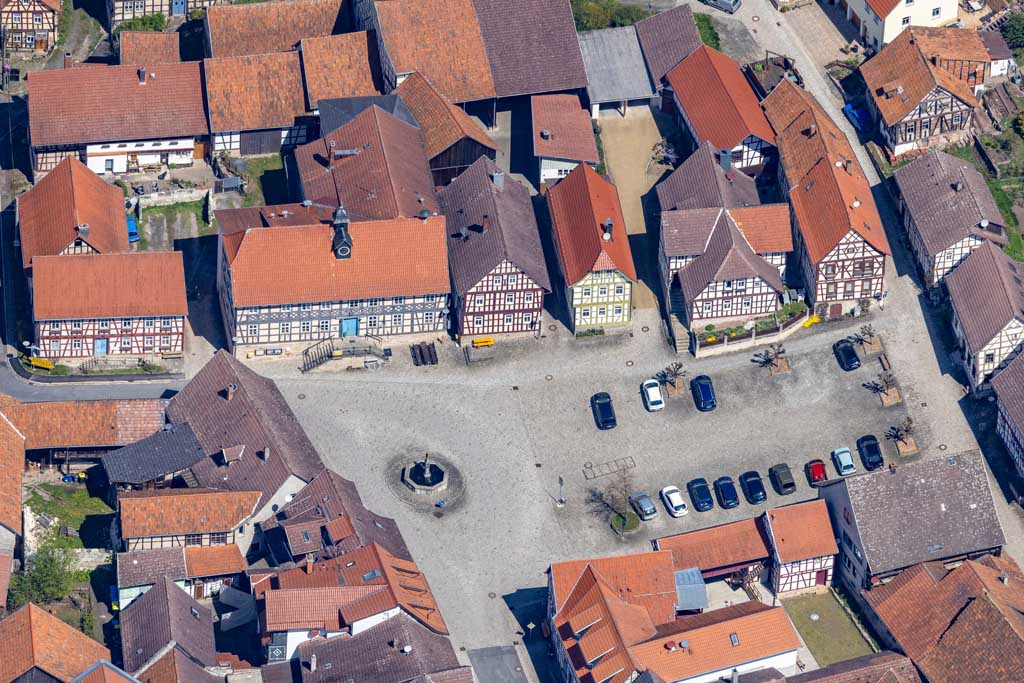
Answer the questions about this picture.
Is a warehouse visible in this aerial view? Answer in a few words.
Yes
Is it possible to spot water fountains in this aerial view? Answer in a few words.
Yes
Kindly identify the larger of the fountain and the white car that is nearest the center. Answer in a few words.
the fountain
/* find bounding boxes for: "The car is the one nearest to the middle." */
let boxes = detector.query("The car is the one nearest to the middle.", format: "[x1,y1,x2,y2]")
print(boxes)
[592,390,615,426]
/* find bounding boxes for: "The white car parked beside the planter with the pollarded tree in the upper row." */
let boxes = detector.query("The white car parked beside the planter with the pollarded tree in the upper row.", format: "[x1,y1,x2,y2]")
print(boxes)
[642,374,666,411]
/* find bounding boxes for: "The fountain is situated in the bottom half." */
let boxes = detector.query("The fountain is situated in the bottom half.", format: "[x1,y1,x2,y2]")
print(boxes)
[387,454,465,514]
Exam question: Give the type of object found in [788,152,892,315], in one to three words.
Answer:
house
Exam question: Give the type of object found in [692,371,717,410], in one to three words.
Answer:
car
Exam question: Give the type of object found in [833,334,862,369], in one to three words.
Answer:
car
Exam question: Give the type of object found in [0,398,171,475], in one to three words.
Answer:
shed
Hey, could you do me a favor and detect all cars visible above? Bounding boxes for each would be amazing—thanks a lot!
[833,334,862,369]
[628,486,659,522]
[804,452,831,488]
[692,371,717,410]
[714,471,740,508]
[688,474,715,511]
[592,390,615,426]
[831,439,859,477]
[769,457,798,495]
[642,374,666,411]
[857,430,886,469]
[739,465,768,504]
[662,481,689,517]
